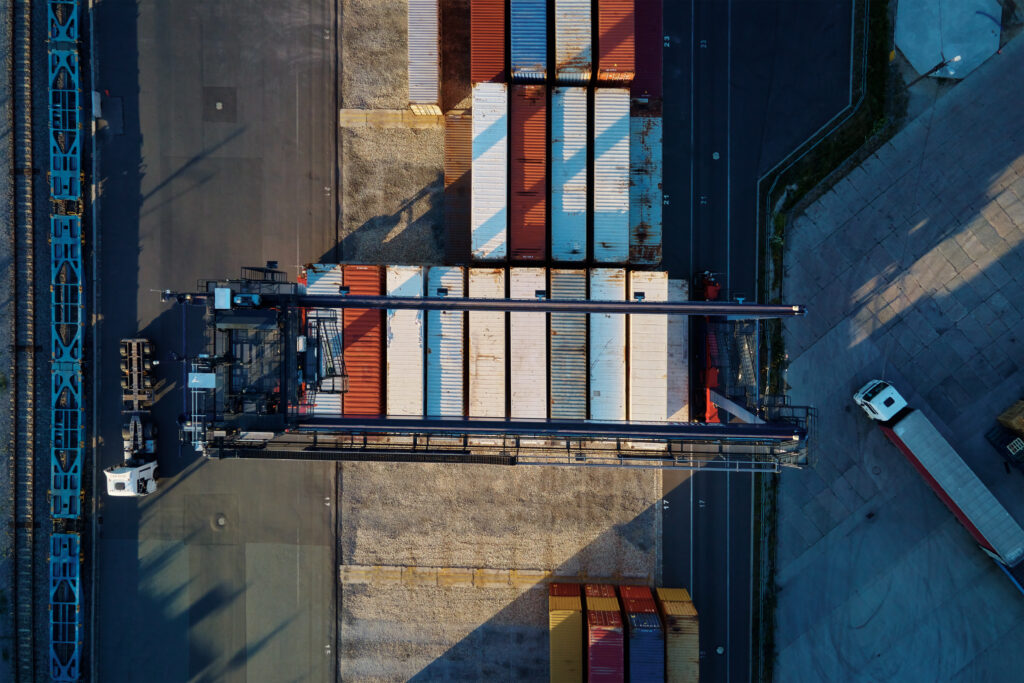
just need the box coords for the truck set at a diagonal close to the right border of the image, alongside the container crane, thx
[850,367,1024,586]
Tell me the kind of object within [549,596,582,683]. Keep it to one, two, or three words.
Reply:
shipping container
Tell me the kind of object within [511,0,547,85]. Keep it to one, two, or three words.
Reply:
shipping container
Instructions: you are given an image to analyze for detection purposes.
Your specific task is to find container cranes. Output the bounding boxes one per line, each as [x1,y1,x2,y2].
[158,262,818,471]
